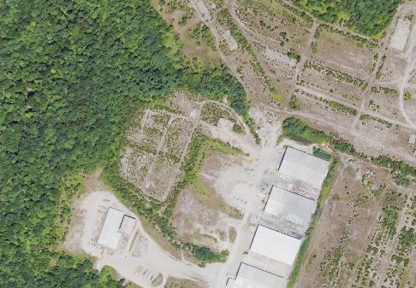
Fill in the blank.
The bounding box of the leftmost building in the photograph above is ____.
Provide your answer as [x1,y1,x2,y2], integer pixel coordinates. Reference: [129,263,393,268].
[97,208,137,248]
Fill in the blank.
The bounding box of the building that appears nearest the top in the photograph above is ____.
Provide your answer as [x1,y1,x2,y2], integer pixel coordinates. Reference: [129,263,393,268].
[278,146,328,184]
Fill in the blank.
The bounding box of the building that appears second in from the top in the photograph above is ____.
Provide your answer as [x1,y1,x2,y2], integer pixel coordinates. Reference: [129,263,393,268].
[263,184,314,225]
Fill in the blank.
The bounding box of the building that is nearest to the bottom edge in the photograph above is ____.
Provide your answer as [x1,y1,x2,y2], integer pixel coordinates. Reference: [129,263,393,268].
[226,262,285,288]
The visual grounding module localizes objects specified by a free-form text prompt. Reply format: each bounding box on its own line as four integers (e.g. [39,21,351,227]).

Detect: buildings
[226,262,285,288]
[97,208,137,248]
[263,184,314,225]
[278,146,328,184]
[249,225,300,266]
